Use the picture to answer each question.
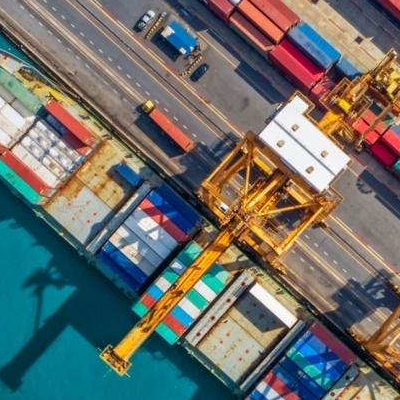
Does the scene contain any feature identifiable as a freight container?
Yes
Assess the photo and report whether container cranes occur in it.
Yes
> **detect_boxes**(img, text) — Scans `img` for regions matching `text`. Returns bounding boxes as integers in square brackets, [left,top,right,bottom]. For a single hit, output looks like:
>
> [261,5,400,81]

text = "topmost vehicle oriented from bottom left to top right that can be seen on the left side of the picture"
[137,9,155,31]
